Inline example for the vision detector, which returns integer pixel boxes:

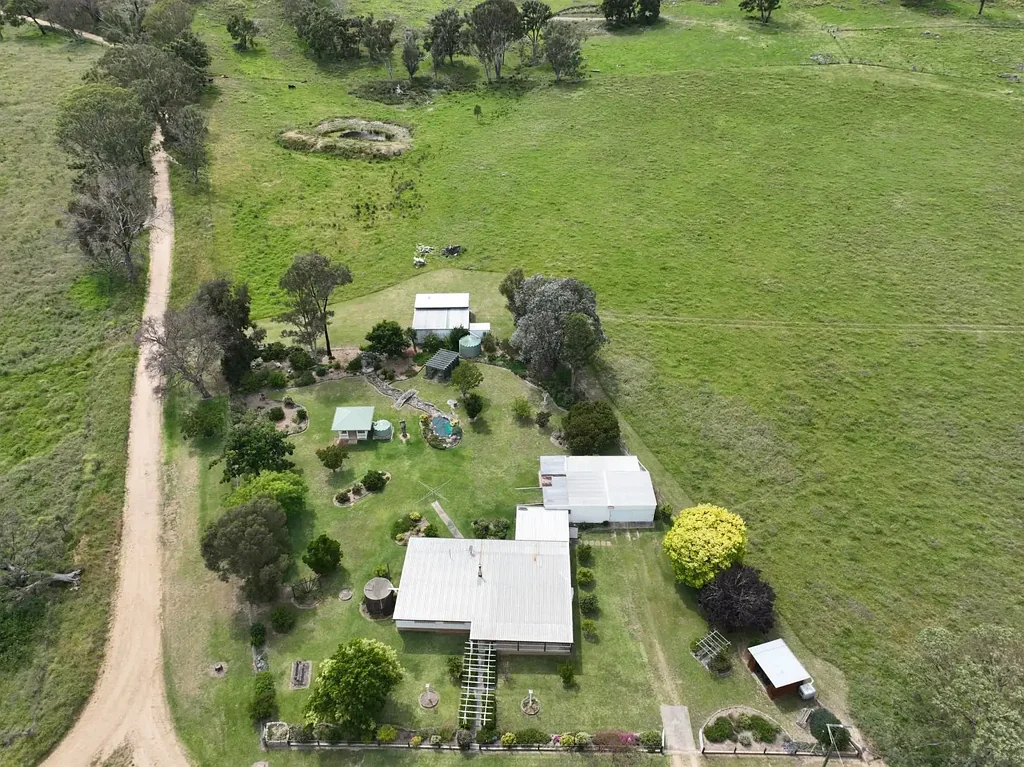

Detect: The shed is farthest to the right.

[746,638,810,701]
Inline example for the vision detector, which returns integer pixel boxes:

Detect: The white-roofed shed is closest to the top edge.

[411,292,489,343]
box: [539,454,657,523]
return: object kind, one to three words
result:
building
